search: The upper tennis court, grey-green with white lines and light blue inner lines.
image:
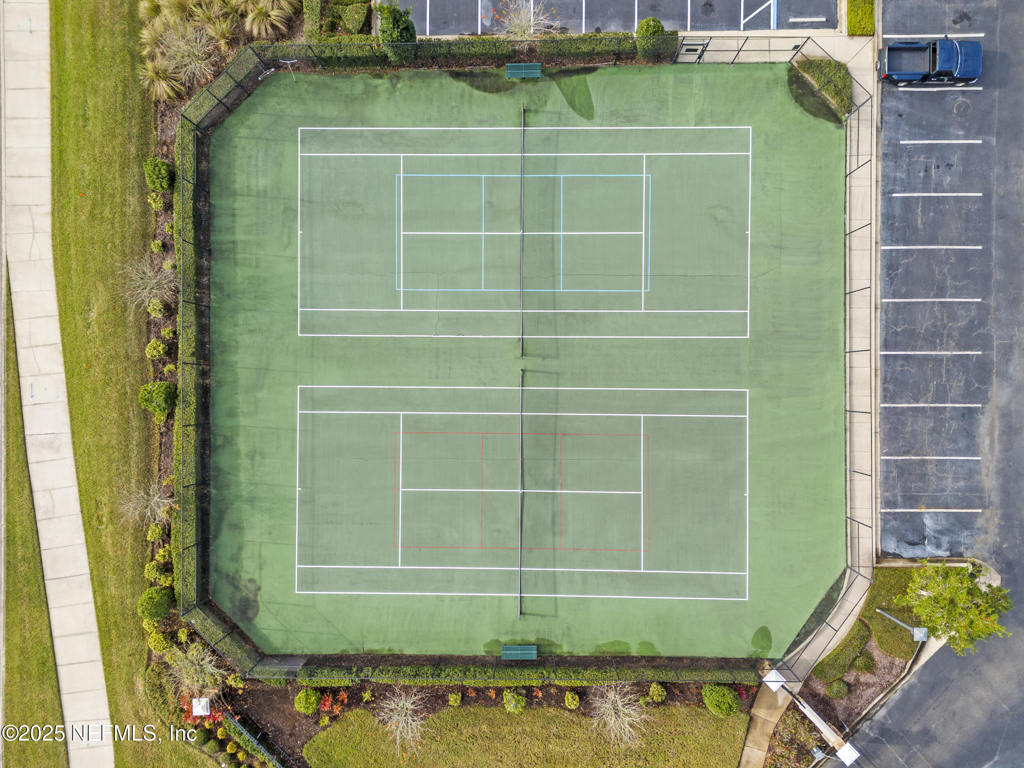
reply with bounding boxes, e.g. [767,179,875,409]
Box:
[298,126,751,338]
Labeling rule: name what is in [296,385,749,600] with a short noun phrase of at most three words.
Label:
tennis court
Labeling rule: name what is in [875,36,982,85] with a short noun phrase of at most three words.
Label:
truck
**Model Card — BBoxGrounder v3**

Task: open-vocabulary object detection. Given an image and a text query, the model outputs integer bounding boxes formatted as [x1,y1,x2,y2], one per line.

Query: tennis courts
[298,126,751,338]
[296,385,749,600]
